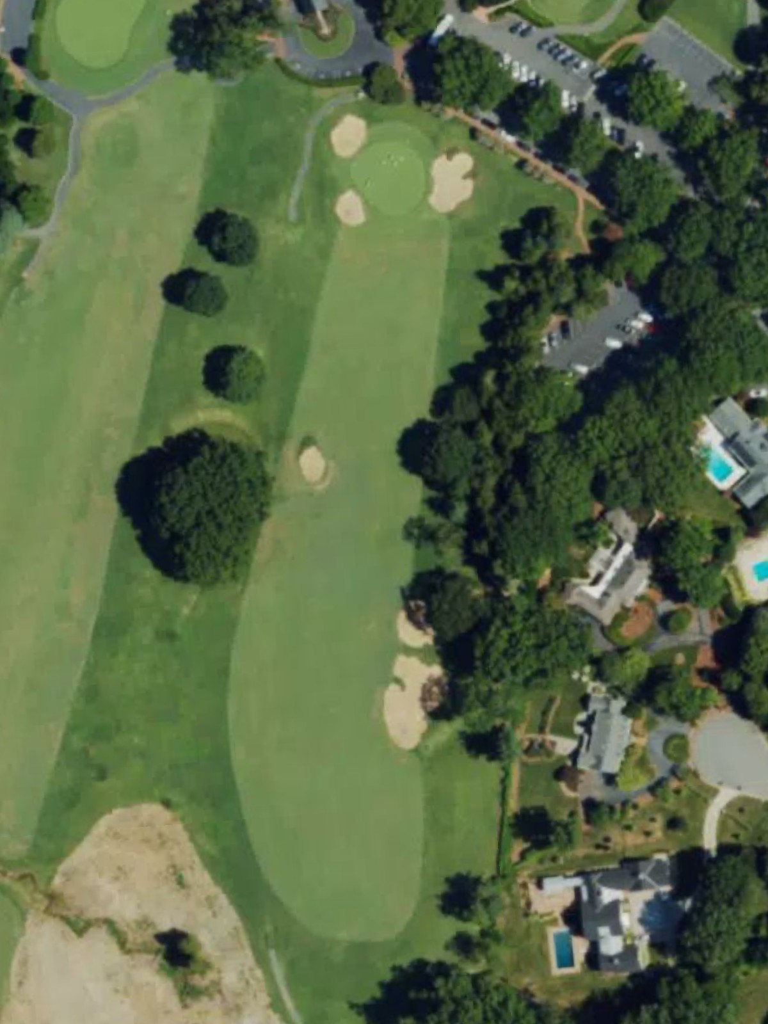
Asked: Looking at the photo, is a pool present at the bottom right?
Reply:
Yes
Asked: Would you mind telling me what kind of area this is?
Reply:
golf course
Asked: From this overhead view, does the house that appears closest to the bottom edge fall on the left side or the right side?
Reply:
right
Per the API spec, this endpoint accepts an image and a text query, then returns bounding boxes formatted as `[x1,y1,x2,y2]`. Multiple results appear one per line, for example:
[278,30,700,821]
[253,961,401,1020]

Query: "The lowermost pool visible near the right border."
[732,531,768,604]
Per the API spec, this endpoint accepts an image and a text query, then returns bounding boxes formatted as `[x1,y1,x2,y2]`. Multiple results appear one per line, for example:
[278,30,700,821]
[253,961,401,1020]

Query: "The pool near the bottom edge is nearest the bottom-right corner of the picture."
[547,927,589,976]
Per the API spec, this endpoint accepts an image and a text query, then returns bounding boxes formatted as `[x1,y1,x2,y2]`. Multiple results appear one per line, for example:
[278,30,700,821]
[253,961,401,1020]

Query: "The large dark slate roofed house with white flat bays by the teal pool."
[543,854,674,977]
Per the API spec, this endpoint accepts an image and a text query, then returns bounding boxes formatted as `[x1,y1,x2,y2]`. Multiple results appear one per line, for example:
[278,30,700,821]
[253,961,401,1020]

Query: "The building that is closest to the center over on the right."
[566,506,650,624]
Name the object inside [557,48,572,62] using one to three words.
car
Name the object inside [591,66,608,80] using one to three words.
car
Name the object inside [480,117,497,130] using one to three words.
vehicle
